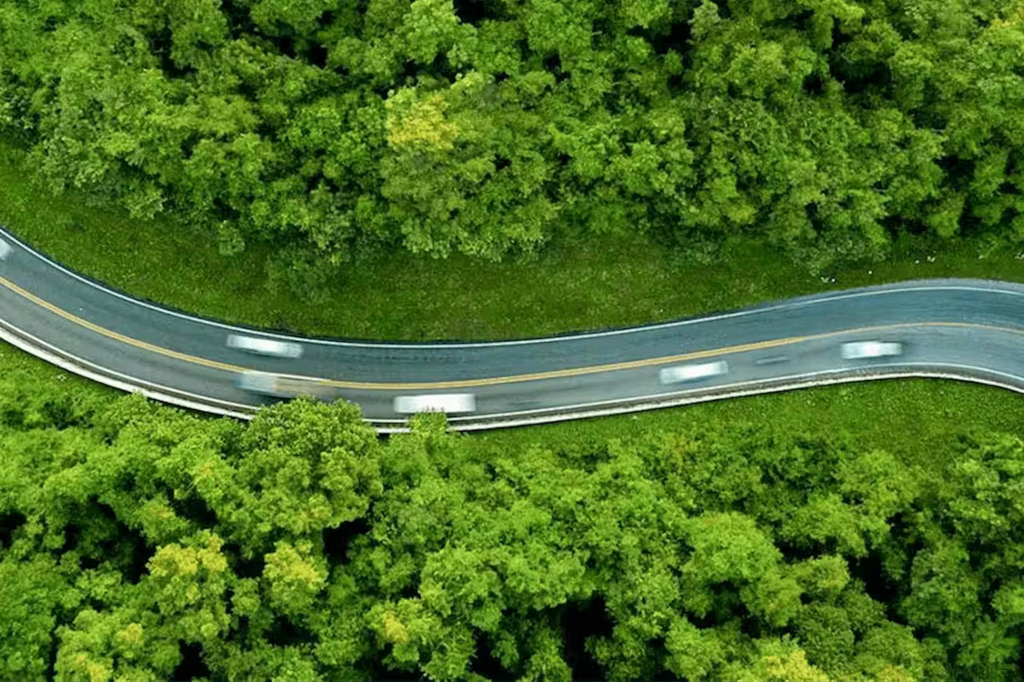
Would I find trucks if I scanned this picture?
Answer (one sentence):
Yes, you can see a truck in this photo.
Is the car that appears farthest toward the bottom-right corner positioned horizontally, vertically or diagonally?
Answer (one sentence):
The car that appears farthest toward the bottom-right corner runs horizontally in the image.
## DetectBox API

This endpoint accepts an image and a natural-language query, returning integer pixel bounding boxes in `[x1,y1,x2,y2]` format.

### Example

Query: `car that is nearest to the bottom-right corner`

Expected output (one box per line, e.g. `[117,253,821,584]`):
[842,340,899,361]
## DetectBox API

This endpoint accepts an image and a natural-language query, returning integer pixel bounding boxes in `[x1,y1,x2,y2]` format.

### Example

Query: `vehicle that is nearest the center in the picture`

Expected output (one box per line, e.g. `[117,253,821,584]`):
[397,394,473,417]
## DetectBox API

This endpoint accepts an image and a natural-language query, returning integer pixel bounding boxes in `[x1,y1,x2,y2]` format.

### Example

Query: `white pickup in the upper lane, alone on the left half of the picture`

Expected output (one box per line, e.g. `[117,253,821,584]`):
[235,334,296,359]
